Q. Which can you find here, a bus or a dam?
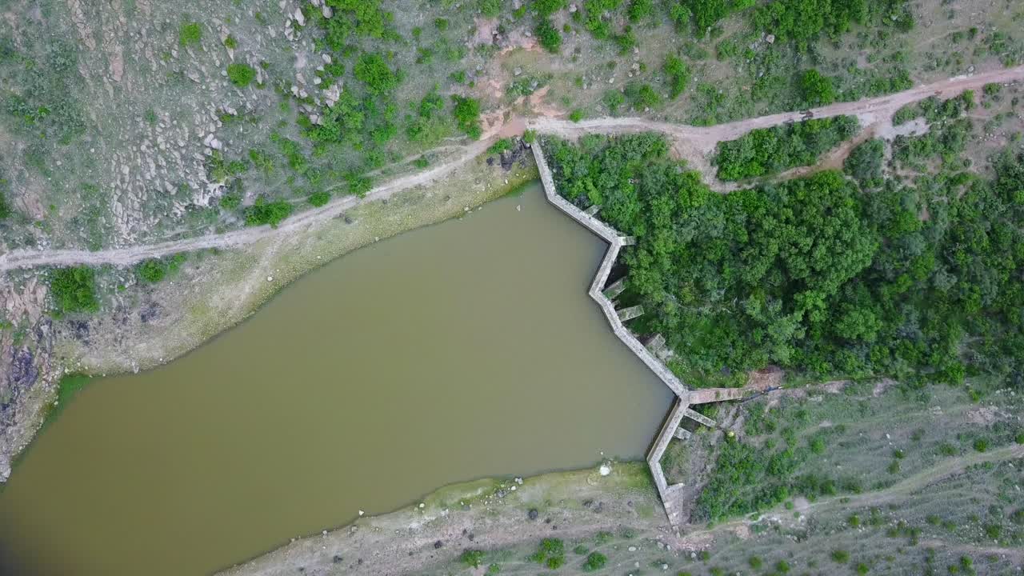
dam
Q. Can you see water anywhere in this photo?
Yes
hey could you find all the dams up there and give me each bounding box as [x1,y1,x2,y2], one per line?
[531,142,754,525]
